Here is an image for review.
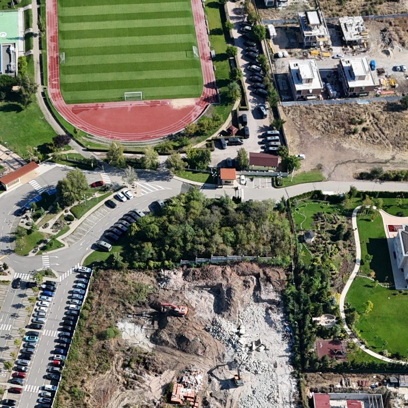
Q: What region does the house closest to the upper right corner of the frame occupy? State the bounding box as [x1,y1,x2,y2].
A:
[337,16,368,52]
